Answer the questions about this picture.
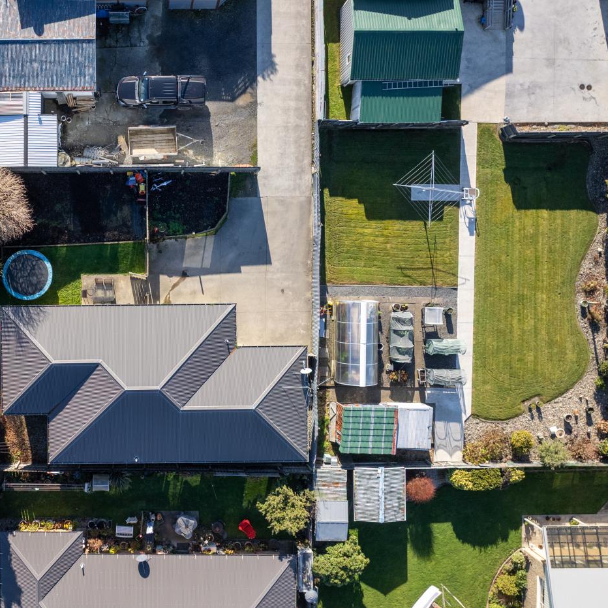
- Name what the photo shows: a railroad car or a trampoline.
trampoline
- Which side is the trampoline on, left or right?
left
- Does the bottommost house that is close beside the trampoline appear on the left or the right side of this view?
left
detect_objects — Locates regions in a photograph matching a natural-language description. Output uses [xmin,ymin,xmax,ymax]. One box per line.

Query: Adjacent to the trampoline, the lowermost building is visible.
[0,303,313,466]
